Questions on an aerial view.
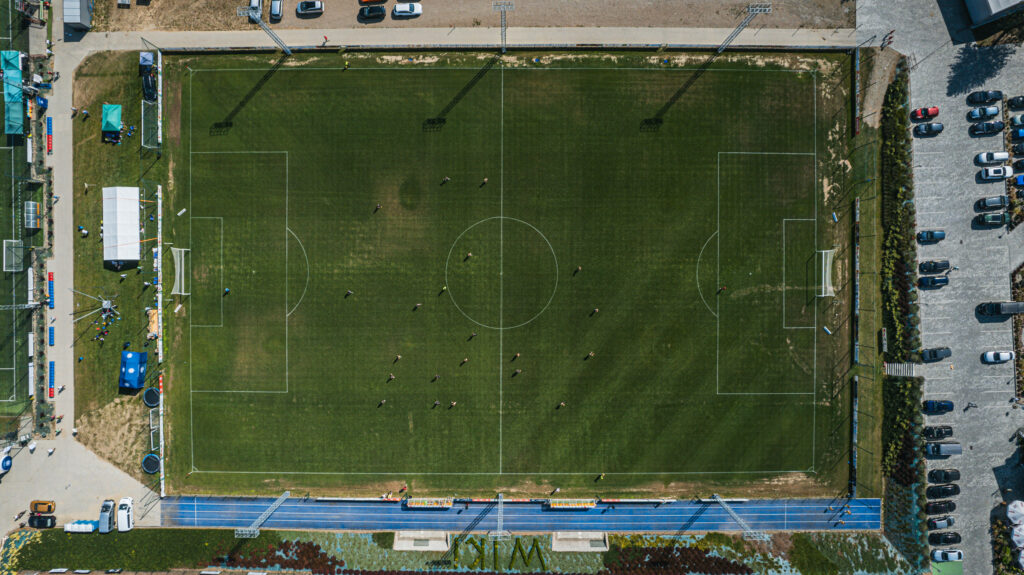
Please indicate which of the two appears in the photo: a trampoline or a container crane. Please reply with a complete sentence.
Visible in the photo is a trampoline.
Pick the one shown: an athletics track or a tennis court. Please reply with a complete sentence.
I can see an athletics track in this picture.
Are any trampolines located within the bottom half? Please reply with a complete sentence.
Yes, I can see a trampoline within the bottom half.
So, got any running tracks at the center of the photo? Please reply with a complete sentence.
No, no running track can be made out at the center of the photo.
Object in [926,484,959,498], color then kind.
black car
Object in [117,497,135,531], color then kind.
white vehicle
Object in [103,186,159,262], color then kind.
white tent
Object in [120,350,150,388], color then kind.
blue gazebo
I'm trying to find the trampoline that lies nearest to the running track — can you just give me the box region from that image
[142,454,161,475]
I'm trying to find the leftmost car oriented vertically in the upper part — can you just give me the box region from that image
[142,75,158,104]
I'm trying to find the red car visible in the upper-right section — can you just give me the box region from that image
[912,106,939,120]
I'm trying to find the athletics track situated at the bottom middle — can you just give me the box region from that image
[161,497,882,531]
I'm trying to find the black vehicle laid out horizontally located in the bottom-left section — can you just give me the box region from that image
[27,514,58,529]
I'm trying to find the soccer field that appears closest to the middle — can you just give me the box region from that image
[160,47,857,498]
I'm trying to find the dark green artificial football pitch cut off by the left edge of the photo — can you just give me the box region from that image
[0,0,33,441]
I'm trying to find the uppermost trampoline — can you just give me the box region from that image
[139,388,160,407]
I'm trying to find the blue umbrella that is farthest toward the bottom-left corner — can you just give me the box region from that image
[1,457,19,470]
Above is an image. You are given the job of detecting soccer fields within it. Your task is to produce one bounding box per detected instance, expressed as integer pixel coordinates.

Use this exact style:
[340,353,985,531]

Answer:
[160,47,857,498]
[0,0,33,441]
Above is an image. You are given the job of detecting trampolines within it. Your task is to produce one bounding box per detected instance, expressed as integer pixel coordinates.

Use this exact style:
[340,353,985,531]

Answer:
[139,388,160,407]
[142,454,161,475]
